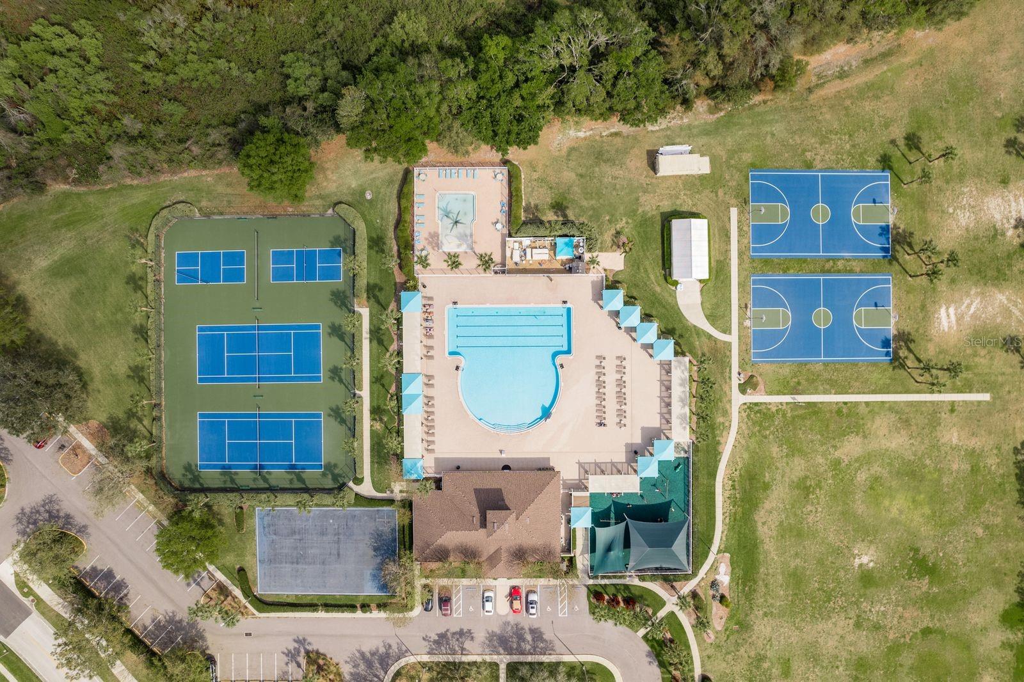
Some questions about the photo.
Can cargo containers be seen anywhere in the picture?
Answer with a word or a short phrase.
No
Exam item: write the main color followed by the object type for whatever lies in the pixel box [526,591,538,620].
white vehicle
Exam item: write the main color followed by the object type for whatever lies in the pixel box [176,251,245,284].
blue sports court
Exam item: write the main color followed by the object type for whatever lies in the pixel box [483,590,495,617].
white vehicle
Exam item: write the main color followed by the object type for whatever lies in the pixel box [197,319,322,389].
blue tennis court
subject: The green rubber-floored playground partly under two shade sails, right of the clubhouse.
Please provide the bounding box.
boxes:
[590,457,690,573]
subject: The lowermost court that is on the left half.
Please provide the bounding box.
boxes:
[256,508,398,595]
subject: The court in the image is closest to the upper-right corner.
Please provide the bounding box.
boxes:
[750,170,891,258]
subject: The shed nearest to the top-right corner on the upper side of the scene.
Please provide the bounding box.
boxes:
[654,154,710,179]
